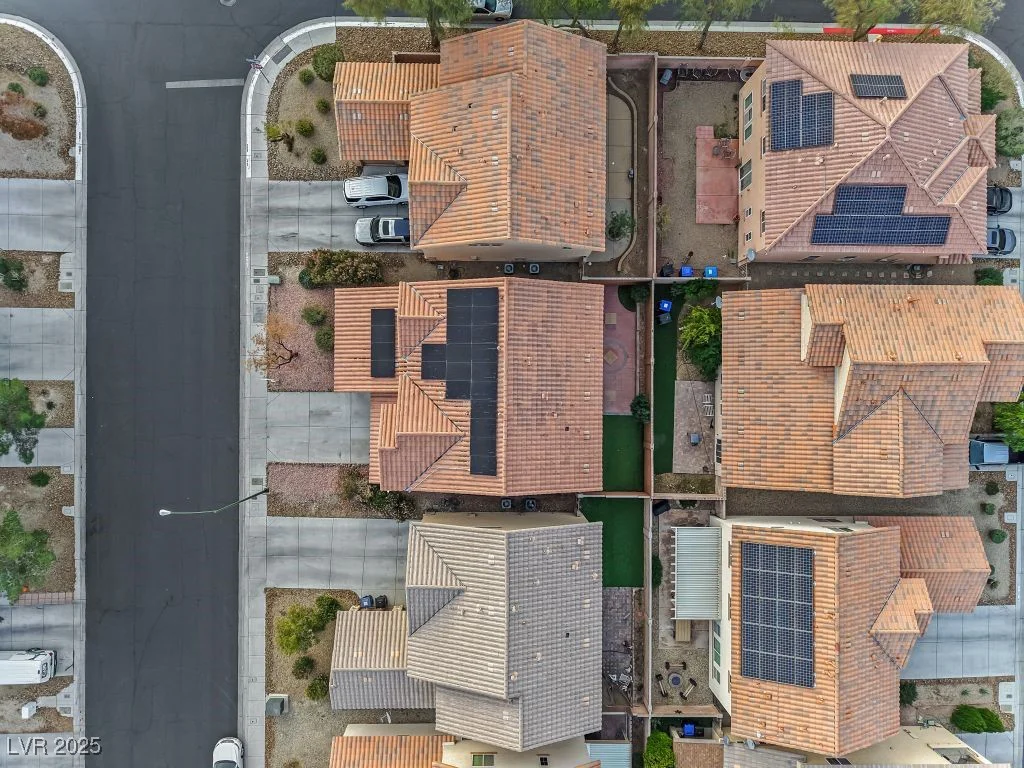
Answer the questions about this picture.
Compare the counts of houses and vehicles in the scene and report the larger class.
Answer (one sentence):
In this view, vehicles are more numerous than houses.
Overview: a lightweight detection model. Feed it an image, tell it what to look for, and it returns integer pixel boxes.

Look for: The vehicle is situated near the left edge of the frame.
[0,647,56,684]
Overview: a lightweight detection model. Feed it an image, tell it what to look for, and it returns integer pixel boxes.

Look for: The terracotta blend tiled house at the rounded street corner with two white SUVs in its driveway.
[334,18,607,262]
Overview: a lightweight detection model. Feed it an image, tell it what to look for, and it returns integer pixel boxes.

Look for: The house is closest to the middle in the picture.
[333,275,605,496]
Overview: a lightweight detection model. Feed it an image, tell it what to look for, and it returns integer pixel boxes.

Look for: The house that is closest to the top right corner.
[740,38,998,272]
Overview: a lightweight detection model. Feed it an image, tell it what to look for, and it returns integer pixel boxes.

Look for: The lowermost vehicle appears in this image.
[212,735,248,768]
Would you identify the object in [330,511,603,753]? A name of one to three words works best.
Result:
house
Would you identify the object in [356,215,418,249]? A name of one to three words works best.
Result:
car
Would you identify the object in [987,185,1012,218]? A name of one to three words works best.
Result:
car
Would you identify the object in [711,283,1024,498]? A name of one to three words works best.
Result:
house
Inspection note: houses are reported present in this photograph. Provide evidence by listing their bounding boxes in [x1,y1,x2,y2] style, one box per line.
[711,283,1024,498]
[740,38,998,272]
[330,511,603,753]
[333,275,605,496]
[666,515,992,756]
[334,18,607,262]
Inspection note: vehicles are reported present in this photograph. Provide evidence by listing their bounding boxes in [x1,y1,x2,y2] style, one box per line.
[344,177,408,212]
[972,224,1016,257]
[212,735,248,768]
[969,437,1024,464]
[356,215,418,249]
[469,0,514,23]
[987,185,1012,218]
[0,647,56,684]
